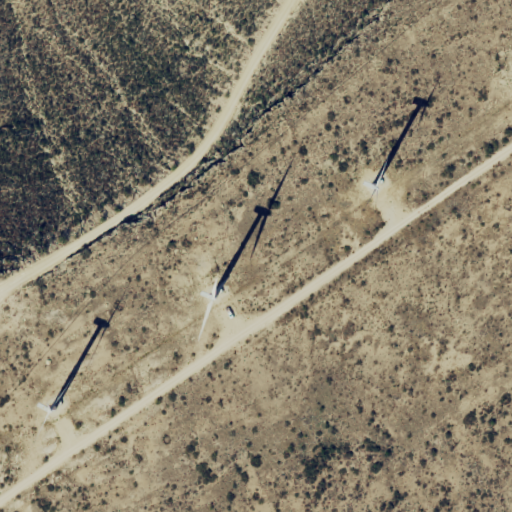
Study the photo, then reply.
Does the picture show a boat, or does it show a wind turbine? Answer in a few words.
wind turbine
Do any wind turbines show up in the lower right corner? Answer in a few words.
No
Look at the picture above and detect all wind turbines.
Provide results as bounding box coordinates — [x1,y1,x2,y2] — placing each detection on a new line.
[197,276,226,338]
[362,148,392,218]
[36,371,64,436]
